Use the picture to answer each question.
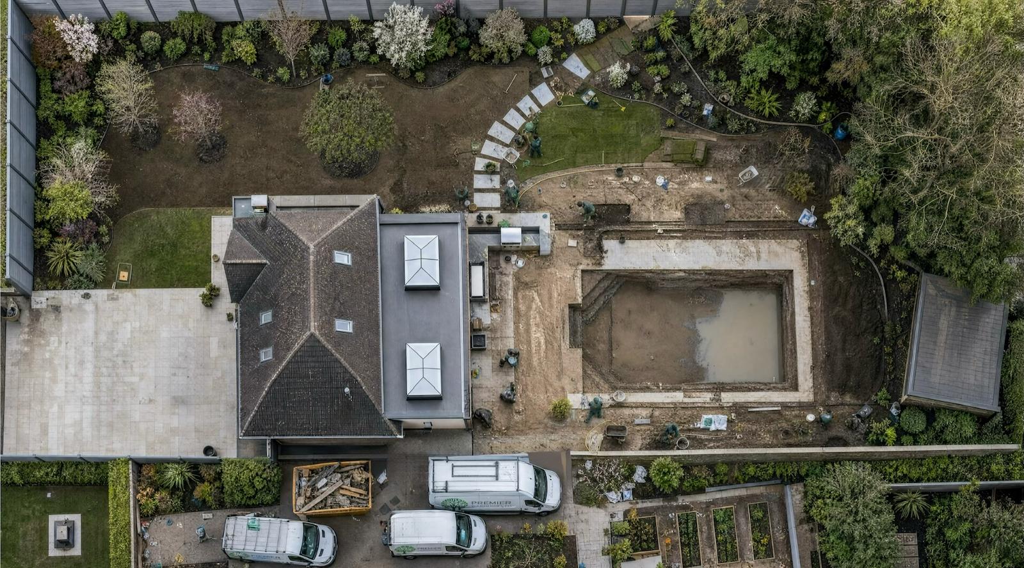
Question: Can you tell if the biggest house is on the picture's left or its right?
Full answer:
The biggest house appears in the left half of the scene.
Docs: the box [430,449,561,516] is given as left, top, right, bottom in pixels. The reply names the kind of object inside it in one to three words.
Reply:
van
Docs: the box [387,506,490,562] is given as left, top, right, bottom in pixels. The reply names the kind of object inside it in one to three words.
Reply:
van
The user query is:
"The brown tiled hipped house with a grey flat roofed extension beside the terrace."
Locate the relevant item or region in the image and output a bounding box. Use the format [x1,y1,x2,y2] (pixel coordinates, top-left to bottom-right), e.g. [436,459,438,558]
[223,192,472,455]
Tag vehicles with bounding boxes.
[223,515,339,568]
[430,449,561,516]
[387,506,490,562]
